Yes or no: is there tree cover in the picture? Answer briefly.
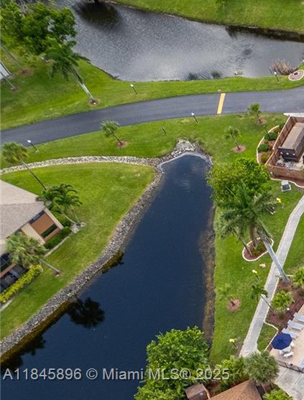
Yes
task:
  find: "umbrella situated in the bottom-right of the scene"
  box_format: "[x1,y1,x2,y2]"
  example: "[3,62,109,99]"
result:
[270,333,294,353]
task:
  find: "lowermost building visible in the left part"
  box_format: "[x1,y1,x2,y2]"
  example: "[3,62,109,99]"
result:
[0,185,70,271]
